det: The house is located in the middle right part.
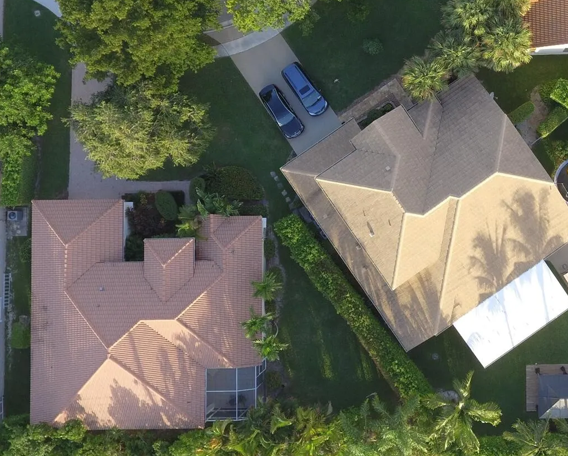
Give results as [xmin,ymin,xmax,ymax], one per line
[280,75,568,352]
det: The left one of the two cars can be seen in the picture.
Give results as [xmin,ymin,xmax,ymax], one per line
[260,82,303,141]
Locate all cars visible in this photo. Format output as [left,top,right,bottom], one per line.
[260,82,303,141]
[280,58,329,119]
